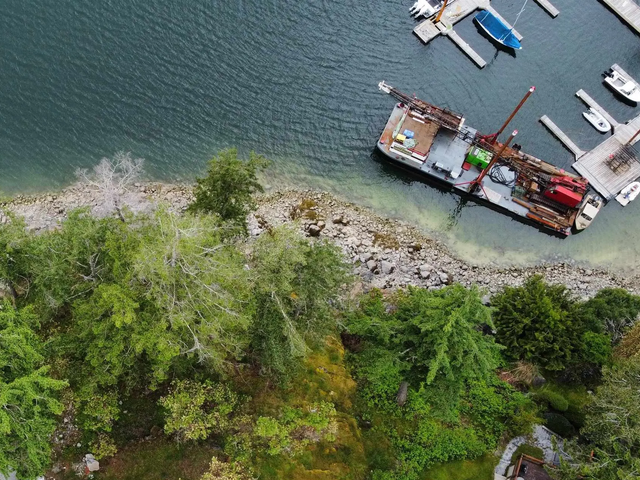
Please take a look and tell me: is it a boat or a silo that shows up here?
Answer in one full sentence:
This aerial view contains a boat.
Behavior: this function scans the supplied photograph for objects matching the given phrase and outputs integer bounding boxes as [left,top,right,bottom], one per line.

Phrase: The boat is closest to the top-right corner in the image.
[600,66,640,104]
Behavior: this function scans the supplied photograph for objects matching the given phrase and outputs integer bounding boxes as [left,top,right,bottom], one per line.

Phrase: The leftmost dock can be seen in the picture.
[413,18,442,46]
